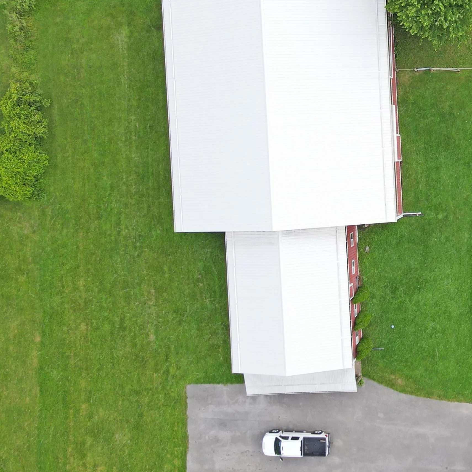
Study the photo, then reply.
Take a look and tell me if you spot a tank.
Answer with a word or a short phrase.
No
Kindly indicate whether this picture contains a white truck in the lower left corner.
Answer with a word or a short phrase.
No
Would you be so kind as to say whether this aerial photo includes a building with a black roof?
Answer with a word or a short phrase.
No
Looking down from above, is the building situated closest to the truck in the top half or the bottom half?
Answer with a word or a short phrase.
bottom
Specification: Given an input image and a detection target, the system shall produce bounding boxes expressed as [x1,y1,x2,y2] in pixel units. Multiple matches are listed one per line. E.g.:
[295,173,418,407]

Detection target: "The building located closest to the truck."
[223,226,372,397]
